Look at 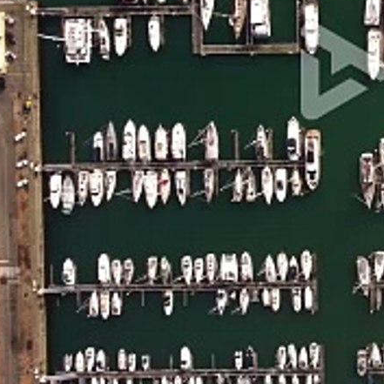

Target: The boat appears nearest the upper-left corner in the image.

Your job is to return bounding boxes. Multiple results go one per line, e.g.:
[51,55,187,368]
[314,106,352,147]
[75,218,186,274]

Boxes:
[45,18,90,63]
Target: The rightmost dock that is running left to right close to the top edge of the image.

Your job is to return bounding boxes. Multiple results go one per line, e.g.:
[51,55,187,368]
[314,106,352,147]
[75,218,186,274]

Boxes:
[69,0,304,54]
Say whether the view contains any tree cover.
No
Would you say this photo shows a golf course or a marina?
marina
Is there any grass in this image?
No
